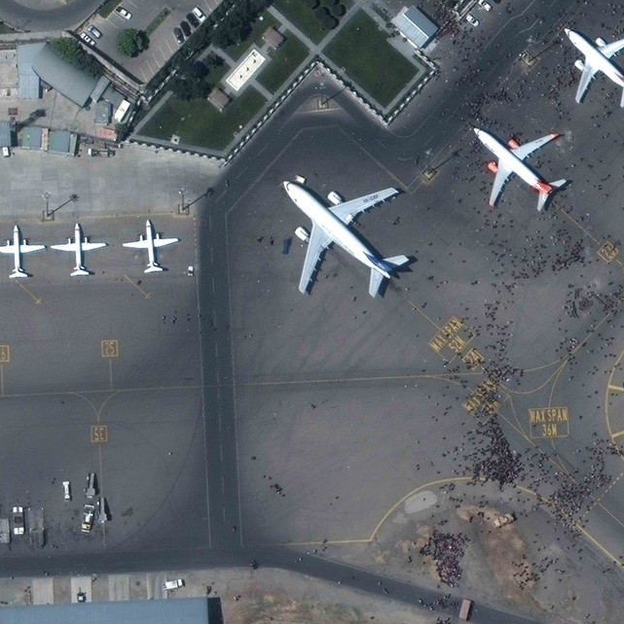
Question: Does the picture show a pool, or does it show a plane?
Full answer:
The one in the frame is a plane.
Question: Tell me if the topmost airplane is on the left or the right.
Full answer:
It is on the right.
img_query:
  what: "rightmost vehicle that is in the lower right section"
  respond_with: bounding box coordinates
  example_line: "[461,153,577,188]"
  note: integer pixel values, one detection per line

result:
[493,510,516,527]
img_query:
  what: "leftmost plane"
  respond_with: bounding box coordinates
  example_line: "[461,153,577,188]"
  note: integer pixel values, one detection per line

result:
[0,225,45,275]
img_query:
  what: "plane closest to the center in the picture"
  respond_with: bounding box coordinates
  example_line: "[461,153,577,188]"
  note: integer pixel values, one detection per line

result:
[283,181,402,290]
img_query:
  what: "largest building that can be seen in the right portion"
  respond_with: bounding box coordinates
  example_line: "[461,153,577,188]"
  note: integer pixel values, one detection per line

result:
[395,4,438,50]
